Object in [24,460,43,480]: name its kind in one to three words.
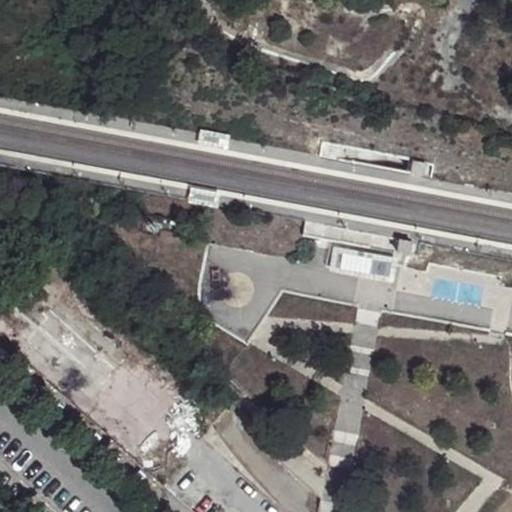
car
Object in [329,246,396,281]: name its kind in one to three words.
building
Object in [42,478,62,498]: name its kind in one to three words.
car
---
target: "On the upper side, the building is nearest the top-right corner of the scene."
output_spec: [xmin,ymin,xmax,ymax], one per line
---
[410,158,436,176]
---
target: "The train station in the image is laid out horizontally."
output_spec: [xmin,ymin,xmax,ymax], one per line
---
[0,96,512,259]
